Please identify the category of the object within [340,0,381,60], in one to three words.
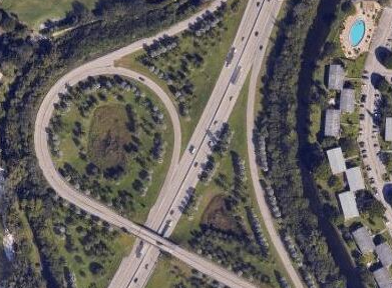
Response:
swimming pool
